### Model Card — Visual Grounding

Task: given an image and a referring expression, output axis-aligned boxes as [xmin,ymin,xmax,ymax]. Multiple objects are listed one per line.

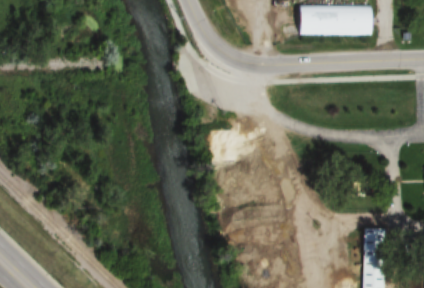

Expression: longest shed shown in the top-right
[300,6,373,36]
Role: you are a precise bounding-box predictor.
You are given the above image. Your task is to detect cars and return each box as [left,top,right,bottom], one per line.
[262,269,269,278]
[300,57,310,62]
